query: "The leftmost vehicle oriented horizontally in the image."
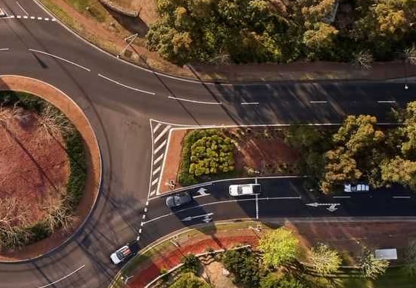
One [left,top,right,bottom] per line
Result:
[164,192,195,208]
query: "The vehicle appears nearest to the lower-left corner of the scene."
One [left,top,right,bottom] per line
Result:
[109,241,138,266]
